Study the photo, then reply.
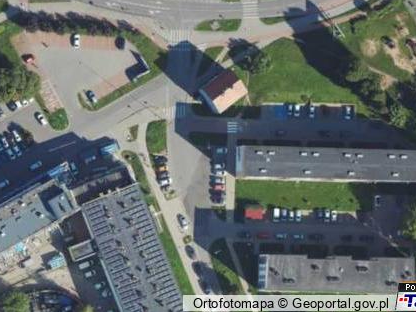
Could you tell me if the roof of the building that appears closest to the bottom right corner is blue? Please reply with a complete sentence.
No, from above the roof of the building that appears closest to the bottom right corner looks gray.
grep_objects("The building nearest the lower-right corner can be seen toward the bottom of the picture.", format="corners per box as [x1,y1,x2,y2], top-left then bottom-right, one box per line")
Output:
[260,254,415,293]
